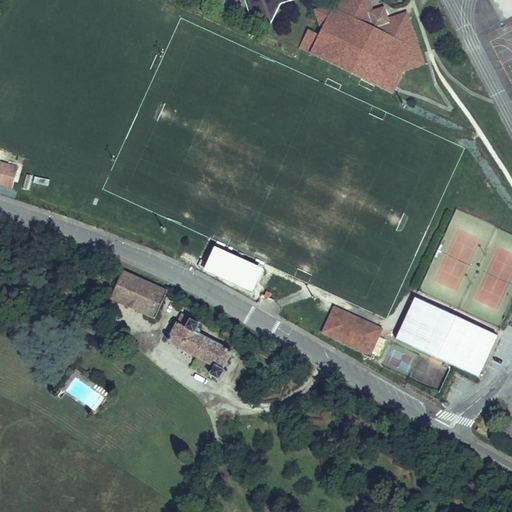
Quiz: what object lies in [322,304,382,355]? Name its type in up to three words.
building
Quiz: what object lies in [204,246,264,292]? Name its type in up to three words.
building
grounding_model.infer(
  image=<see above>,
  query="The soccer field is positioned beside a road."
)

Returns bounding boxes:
[104,17,464,316]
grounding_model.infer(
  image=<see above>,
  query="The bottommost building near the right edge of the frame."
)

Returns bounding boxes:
[396,296,498,376]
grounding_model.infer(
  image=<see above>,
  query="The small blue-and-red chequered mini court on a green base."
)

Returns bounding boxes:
[381,342,419,378]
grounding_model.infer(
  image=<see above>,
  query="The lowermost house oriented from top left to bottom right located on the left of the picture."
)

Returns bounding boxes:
[170,318,230,378]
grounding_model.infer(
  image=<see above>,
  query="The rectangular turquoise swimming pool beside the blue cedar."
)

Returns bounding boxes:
[64,368,108,414]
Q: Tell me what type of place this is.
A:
sports ground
